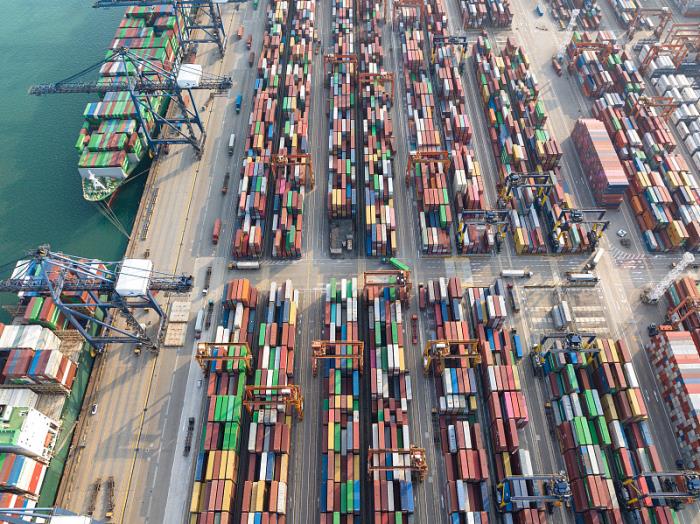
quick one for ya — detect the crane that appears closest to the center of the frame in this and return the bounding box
[362,268,413,308]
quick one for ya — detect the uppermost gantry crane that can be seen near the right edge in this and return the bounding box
[626,5,674,40]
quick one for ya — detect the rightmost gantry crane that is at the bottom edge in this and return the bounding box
[612,471,700,510]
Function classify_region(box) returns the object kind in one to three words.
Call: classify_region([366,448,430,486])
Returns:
container crane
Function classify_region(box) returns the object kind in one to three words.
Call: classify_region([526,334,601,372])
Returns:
container crane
